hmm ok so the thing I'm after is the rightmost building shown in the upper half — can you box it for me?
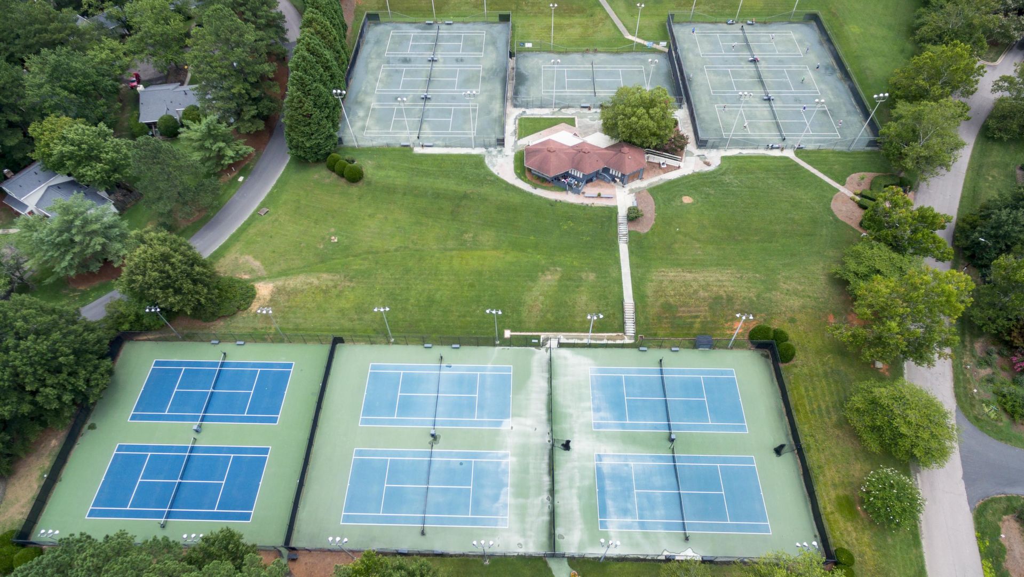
[525,131,647,194]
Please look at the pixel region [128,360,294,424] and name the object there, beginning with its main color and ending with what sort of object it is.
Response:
blue tennis court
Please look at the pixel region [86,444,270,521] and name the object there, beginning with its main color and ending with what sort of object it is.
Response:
blue tennis court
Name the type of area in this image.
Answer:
sports ground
